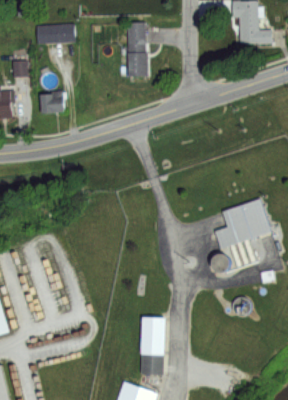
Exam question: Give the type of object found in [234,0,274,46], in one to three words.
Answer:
house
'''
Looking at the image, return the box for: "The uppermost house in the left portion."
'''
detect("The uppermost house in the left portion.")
[38,24,77,45]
